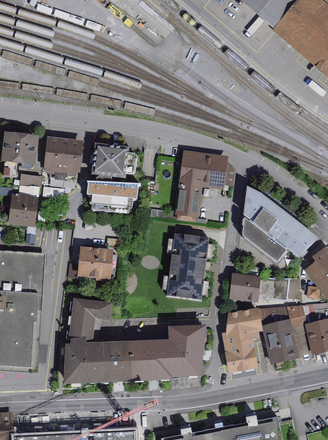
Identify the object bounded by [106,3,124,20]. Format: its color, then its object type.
yellow rail car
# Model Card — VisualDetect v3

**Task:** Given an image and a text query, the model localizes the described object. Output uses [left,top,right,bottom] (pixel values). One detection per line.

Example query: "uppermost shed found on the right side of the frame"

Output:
[245,0,294,28]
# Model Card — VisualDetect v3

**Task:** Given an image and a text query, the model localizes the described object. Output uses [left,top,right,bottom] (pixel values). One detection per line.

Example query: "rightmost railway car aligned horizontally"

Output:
[124,103,156,116]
